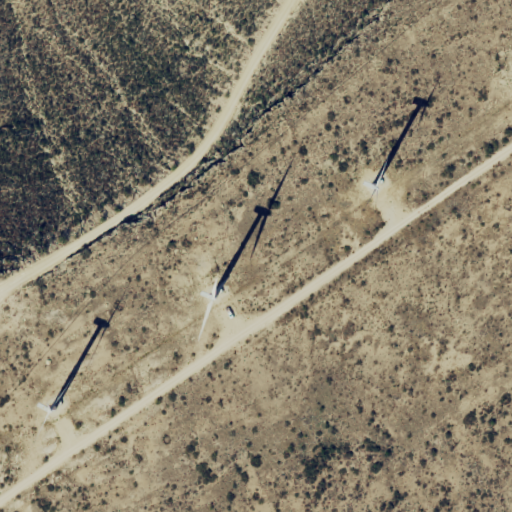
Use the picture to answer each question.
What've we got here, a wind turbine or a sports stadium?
wind turbine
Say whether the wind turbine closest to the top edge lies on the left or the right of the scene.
right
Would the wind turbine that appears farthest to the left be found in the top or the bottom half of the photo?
bottom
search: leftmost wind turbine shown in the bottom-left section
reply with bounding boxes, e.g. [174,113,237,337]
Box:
[36,371,64,436]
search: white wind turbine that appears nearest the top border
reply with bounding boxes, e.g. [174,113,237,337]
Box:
[362,148,392,218]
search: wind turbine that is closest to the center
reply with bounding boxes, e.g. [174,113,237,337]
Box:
[197,276,226,338]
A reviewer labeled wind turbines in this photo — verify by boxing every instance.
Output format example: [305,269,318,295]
[197,276,226,338]
[362,148,392,218]
[36,371,64,436]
